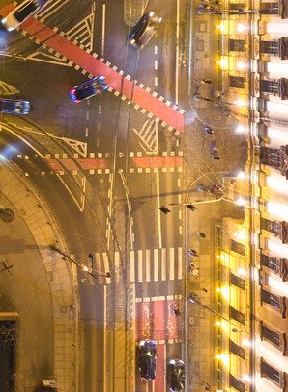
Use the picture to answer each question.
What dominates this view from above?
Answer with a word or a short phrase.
paved ground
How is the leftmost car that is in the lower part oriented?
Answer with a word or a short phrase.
vertically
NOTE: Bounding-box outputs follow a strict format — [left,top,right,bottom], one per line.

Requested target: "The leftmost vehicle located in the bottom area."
[139,341,160,384]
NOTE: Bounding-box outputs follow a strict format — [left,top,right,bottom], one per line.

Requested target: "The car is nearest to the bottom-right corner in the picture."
[169,356,191,392]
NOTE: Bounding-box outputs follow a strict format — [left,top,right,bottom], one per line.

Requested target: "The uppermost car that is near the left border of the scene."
[5,0,43,30]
